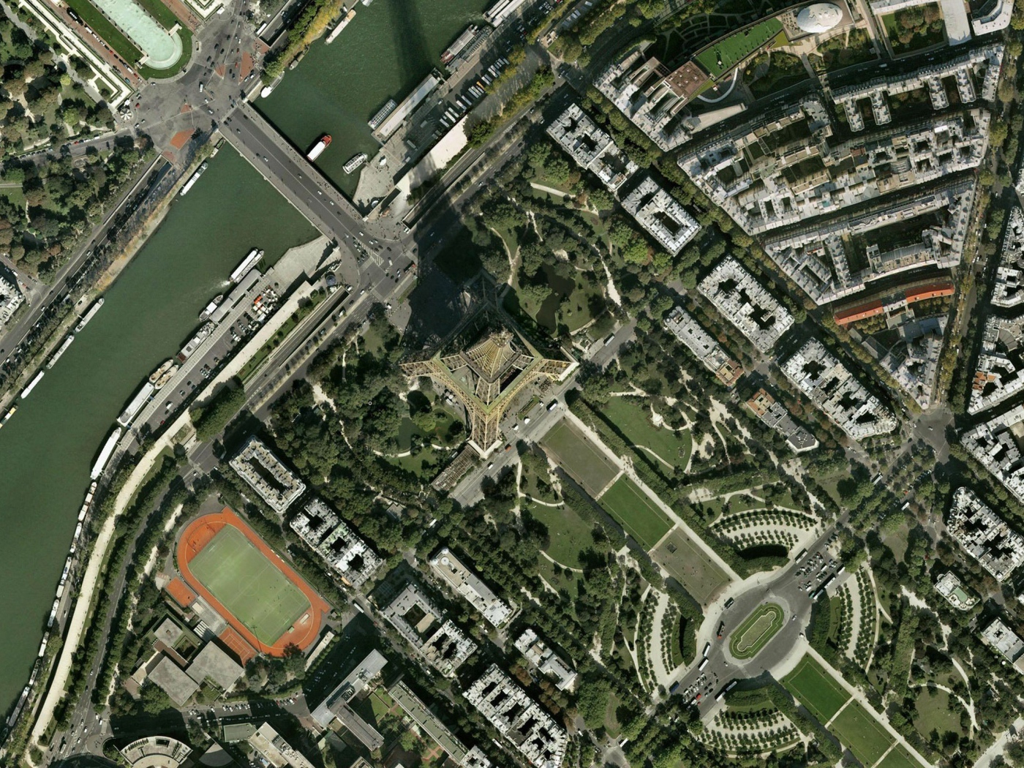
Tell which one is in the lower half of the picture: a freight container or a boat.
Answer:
boat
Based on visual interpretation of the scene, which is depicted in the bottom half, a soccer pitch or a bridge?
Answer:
soccer pitch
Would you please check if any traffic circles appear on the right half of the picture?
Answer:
Yes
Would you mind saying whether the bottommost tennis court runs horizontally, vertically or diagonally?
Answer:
diagonally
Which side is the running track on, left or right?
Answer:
left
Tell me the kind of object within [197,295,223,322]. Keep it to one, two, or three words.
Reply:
boat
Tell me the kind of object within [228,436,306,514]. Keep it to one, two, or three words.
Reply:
building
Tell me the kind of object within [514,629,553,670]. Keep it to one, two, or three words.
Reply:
house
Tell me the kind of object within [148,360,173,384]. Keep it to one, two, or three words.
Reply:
boat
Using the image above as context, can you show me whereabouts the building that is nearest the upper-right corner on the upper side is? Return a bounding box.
[970,0,1013,38]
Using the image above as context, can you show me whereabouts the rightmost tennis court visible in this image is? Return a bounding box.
[219,626,258,666]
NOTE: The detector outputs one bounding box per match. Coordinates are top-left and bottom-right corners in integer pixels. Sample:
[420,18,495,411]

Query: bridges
[212,98,369,240]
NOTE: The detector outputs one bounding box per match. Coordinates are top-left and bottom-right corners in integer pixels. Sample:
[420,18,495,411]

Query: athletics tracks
[178,506,329,658]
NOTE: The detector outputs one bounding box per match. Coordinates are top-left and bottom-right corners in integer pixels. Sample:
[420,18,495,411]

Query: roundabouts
[651,501,867,737]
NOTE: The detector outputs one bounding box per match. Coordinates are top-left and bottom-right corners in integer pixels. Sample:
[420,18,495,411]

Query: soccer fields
[189,525,311,646]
